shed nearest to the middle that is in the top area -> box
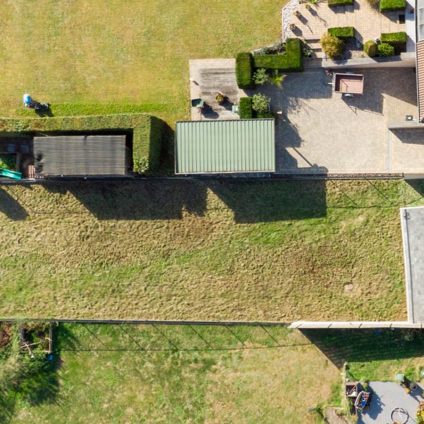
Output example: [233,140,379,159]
[174,118,278,175]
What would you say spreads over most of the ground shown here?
grass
